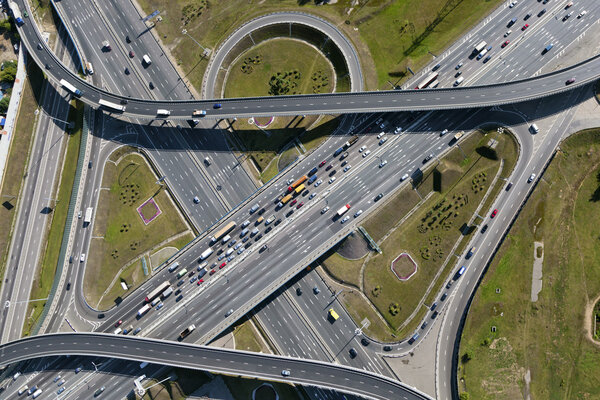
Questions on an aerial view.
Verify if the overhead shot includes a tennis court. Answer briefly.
No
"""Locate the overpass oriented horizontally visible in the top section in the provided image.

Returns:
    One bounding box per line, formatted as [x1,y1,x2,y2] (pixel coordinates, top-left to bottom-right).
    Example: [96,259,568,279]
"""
[8,0,600,122]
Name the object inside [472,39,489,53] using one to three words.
vehicle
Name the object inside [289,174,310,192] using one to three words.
vehicle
